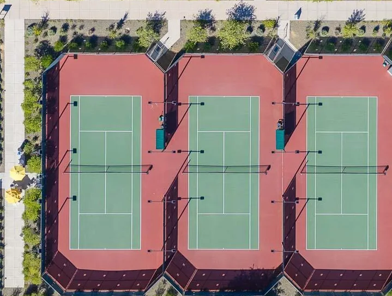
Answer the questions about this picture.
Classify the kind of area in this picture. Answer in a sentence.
What you see here is a sports ground.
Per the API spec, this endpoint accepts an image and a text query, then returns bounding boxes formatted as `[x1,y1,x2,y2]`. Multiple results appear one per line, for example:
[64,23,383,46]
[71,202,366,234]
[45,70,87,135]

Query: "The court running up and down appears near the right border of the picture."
[283,54,392,291]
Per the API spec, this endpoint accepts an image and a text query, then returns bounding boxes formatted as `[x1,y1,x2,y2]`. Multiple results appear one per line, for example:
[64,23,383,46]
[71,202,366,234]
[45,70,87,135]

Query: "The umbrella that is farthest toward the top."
[10,165,28,182]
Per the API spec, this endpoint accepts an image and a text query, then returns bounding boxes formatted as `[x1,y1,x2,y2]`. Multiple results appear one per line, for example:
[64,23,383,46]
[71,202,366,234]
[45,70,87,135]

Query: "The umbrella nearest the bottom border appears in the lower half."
[7,186,21,202]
